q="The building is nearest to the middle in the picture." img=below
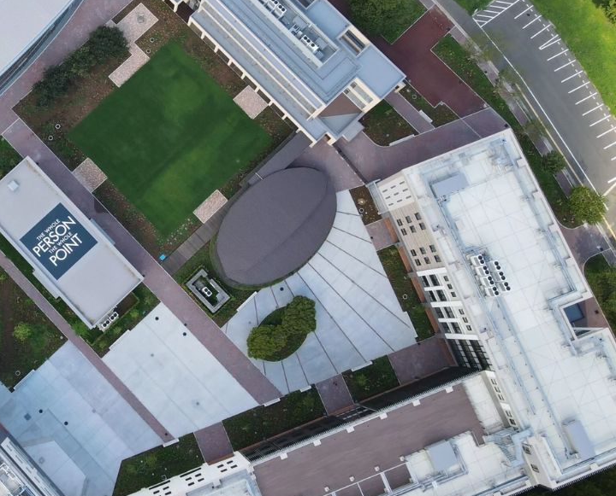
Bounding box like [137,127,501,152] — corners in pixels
[210,167,335,290]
